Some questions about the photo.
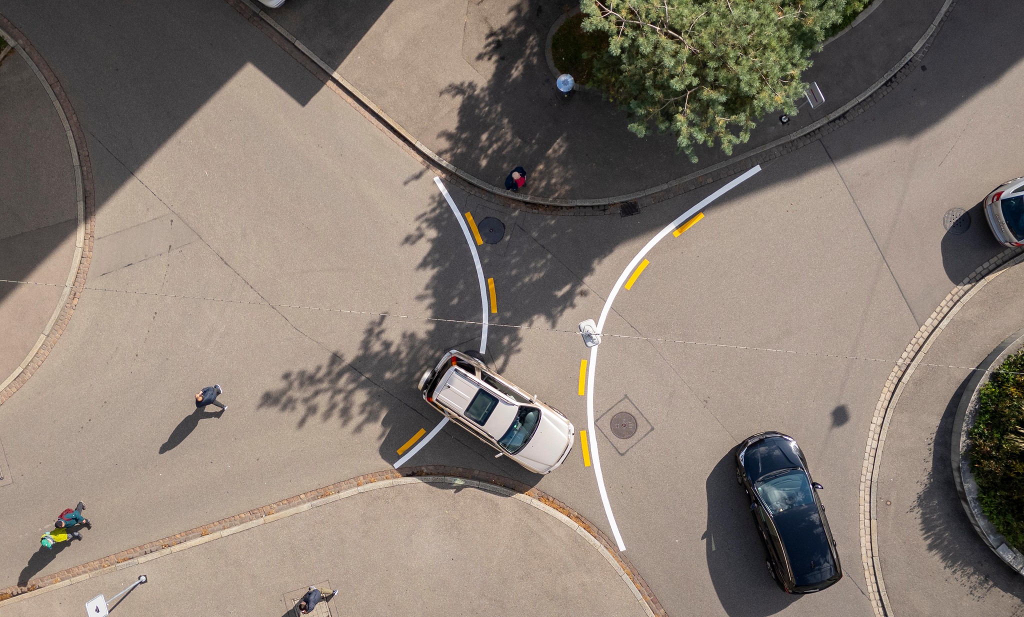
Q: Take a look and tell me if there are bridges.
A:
No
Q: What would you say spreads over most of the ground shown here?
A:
paved ground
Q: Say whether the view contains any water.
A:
No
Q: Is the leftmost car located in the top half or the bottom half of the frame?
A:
bottom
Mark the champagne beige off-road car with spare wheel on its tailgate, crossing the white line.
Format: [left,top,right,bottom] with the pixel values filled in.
[419,350,576,474]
